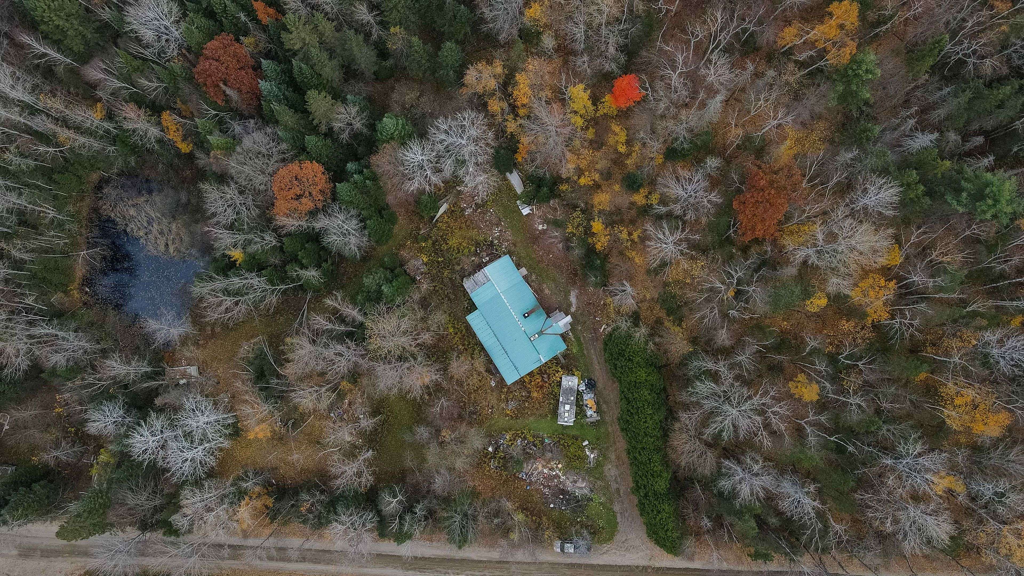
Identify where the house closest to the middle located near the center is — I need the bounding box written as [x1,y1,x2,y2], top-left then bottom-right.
[465,255,572,385]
